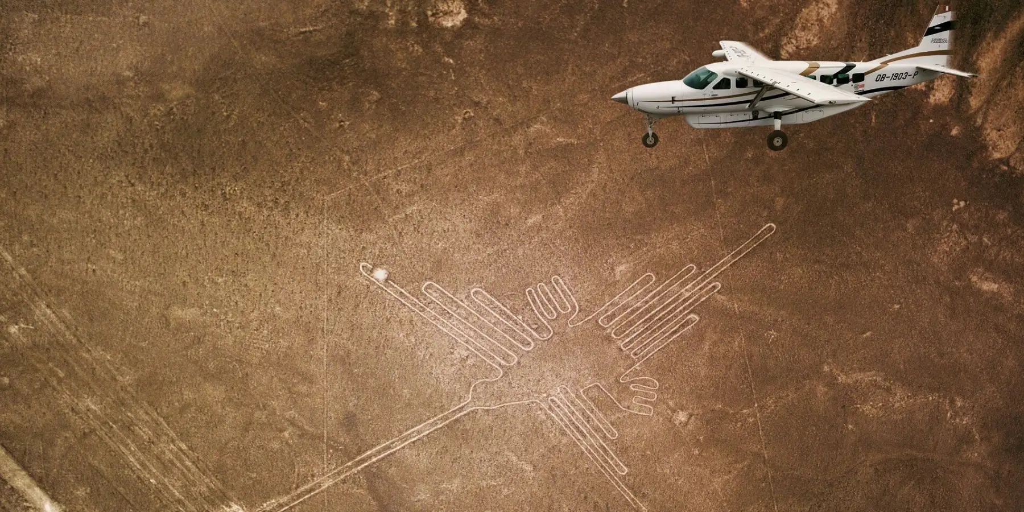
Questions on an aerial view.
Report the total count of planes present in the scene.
1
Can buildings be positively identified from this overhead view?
No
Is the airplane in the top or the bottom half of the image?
top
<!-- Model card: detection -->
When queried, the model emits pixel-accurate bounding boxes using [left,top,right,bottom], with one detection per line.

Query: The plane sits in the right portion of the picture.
[611,5,982,151]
